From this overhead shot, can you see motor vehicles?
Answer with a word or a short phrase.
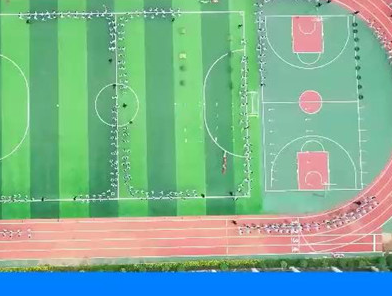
No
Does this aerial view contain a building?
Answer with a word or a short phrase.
No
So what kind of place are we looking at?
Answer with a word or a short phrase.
sports ground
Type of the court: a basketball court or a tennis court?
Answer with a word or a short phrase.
basketball court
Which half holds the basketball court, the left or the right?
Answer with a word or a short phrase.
right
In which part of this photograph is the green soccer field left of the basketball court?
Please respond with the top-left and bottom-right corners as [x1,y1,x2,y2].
[0,0,263,219]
